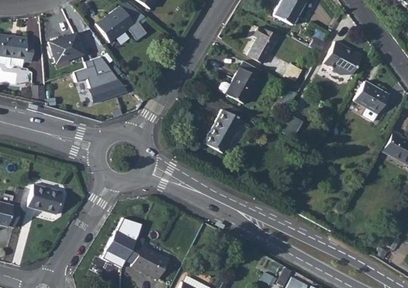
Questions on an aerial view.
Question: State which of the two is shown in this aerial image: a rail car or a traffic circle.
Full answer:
There is a traffic circle in the scene.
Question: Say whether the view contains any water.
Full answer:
No, there's no water in this view.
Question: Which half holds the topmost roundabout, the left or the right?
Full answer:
It is on the left.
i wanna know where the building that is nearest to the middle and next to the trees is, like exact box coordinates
[206,110,240,154]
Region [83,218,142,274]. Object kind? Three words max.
house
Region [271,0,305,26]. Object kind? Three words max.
house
